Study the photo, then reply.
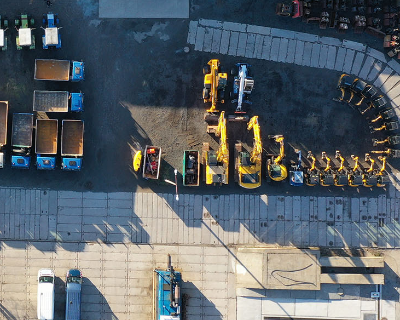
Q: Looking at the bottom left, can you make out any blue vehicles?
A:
Yes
